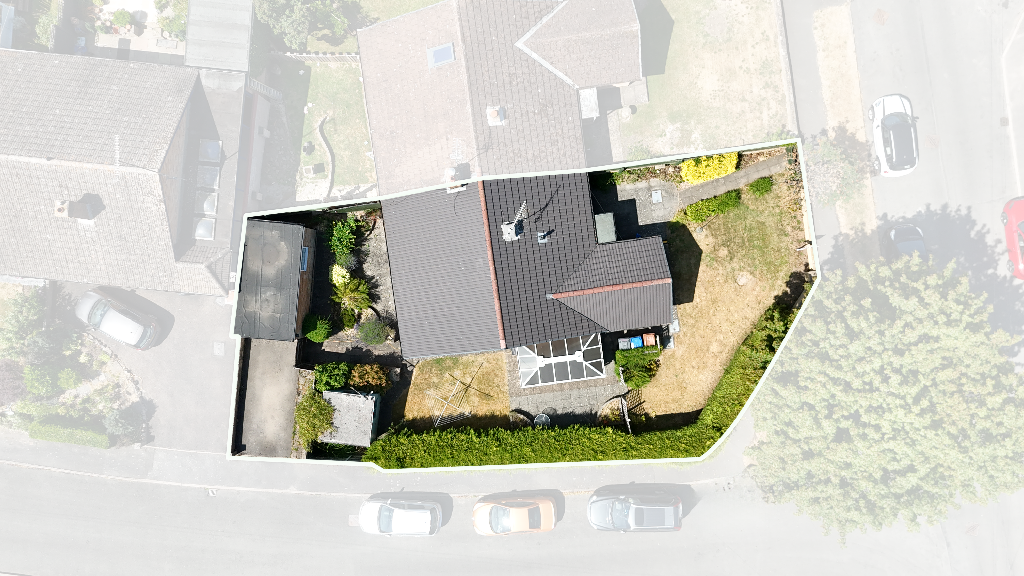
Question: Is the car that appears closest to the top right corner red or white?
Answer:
white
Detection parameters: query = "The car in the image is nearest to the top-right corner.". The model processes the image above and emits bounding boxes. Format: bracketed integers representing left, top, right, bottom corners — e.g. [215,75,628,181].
[871,97,919,174]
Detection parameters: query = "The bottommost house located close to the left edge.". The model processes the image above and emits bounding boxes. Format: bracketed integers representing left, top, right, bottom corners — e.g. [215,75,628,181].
[0,47,269,299]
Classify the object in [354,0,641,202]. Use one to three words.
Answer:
house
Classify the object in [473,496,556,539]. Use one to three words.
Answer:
car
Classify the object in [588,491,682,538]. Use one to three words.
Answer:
car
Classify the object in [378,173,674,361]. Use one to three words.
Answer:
house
